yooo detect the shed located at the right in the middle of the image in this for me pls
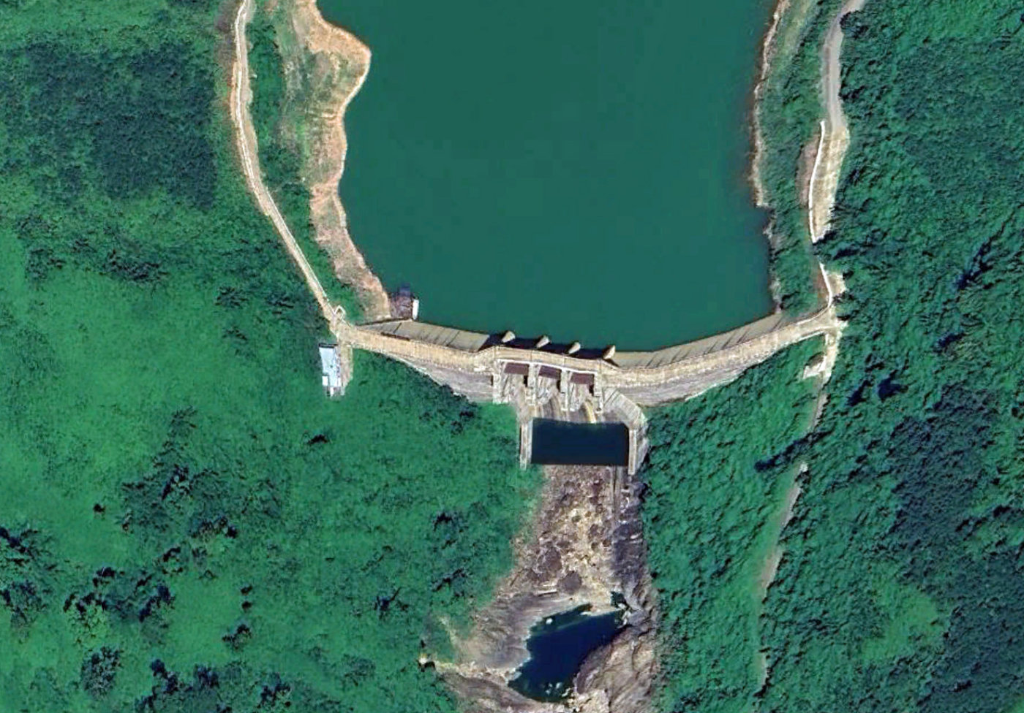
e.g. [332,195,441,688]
[803,353,827,378]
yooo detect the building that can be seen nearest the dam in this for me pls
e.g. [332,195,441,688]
[319,343,344,396]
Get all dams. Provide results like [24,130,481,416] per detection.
[338,307,835,474]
